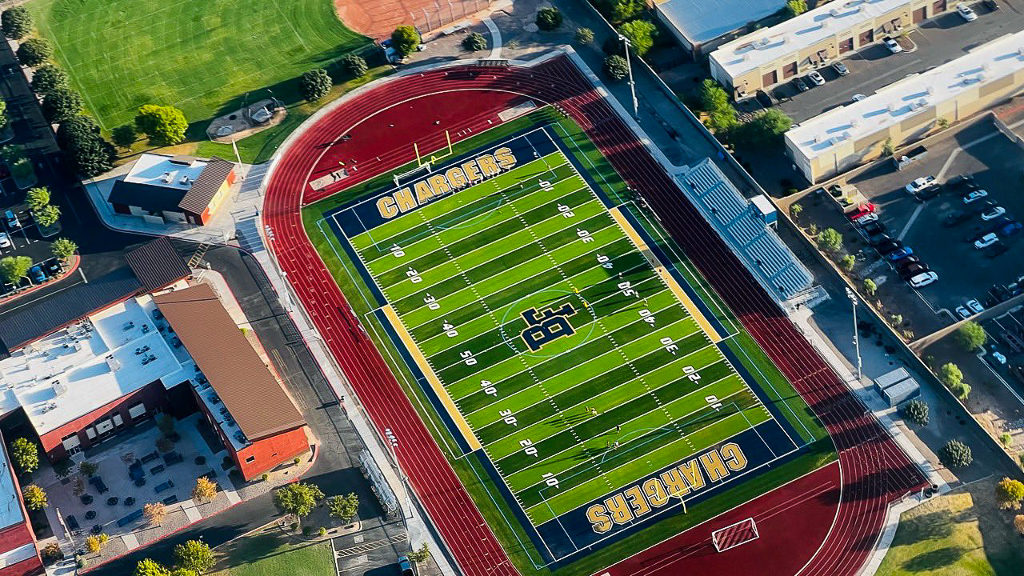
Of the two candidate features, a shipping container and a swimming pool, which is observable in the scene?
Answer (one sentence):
I can see a shipping container in this picture.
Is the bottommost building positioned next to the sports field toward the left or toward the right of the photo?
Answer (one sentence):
The bottommost building positioned next to the sports field sits on the left side.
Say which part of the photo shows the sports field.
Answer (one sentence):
The sports field appears toward the center of the photo.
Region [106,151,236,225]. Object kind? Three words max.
building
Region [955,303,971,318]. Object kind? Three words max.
car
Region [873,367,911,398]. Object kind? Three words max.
shipping container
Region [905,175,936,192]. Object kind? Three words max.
vehicle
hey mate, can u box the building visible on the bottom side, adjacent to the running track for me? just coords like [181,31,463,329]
[0,236,311,482]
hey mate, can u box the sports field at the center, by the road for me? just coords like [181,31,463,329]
[301,105,839,576]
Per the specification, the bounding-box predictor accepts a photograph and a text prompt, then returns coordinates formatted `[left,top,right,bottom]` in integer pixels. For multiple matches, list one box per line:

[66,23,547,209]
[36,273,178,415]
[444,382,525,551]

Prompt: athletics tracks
[261,55,930,576]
